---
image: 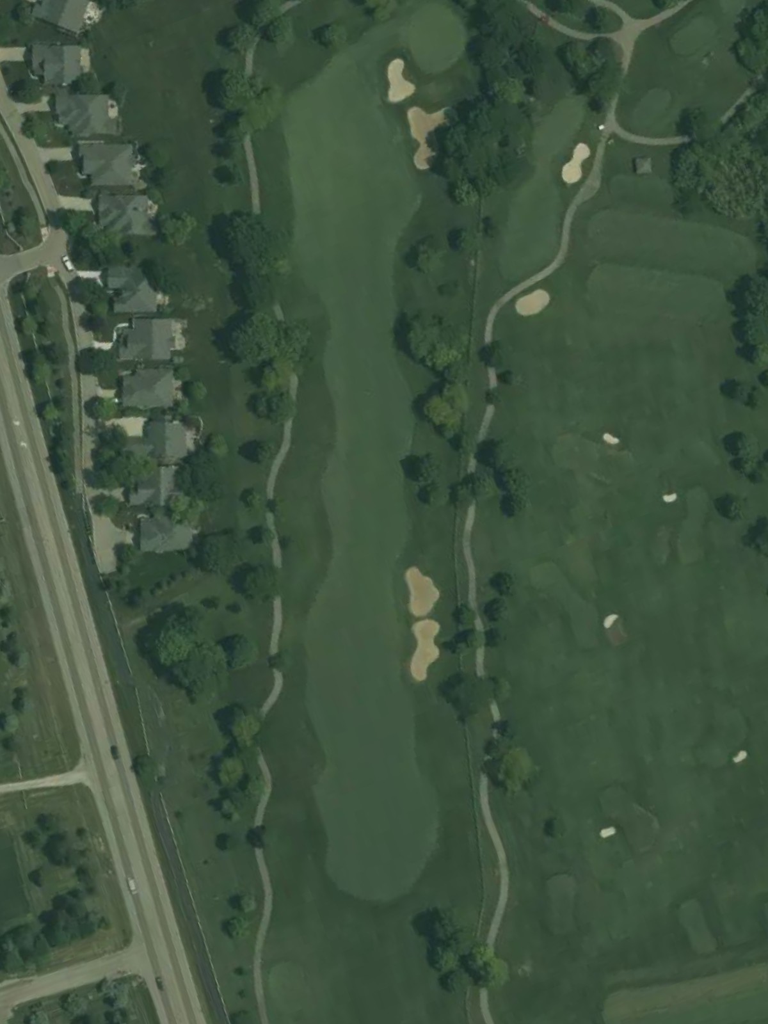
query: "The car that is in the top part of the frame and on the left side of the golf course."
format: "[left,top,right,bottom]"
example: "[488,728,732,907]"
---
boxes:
[62,254,75,272]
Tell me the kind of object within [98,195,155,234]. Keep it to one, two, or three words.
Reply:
house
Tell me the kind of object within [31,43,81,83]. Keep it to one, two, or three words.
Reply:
house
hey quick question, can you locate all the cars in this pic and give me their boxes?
[156,976,164,991]
[127,877,136,893]
[62,254,75,272]
[110,744,119,760]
